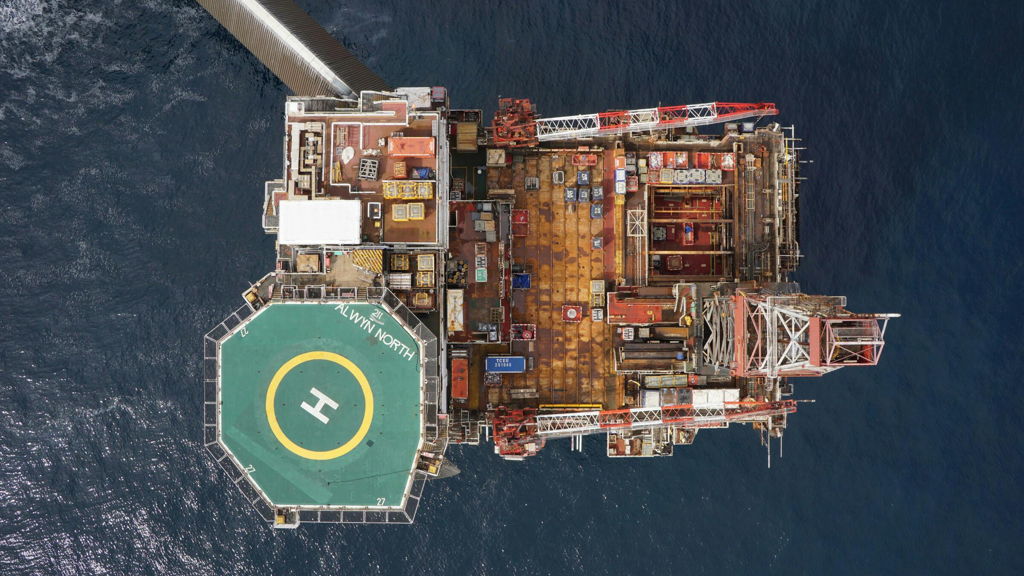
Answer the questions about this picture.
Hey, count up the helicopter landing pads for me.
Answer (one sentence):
The picture shows 1 helicopter landing pad.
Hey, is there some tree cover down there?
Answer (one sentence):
No, the scene doesn't show any tree cover.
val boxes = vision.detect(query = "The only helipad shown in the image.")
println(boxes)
[204,272,449,527]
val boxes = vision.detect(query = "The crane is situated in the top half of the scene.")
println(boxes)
[486,94,779,150]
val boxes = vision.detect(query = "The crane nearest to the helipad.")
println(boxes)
[486,398,816,460]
